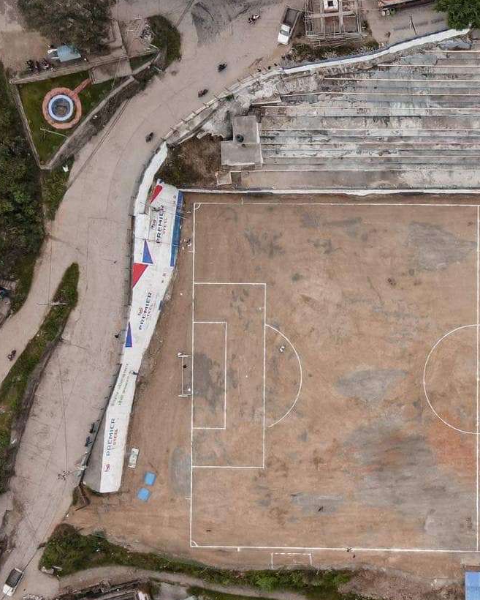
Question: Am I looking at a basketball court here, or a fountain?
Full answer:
I can see a fountain in this picture.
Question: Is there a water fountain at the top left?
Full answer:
Yes, a water fountain shows up at the top left.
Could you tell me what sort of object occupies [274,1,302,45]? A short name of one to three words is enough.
truck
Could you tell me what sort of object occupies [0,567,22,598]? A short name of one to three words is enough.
truck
